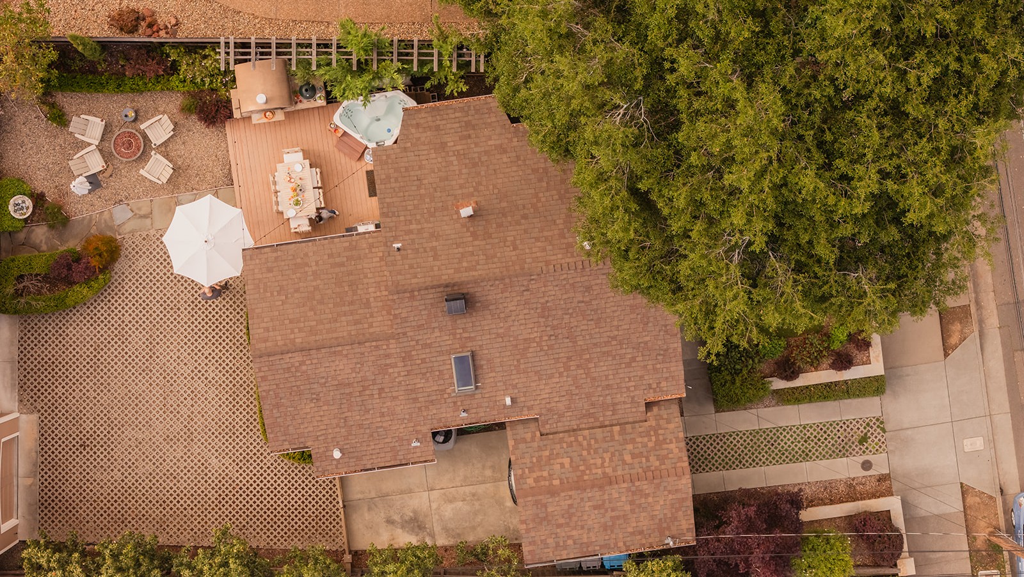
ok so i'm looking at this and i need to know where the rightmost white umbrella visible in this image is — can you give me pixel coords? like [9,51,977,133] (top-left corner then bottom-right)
[163,194,253,286]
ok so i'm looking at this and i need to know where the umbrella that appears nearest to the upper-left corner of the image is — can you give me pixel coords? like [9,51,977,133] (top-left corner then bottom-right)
[65,171,104,199]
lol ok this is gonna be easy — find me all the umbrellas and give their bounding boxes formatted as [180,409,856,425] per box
[163,194,253,286]
[65,171,104,199]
